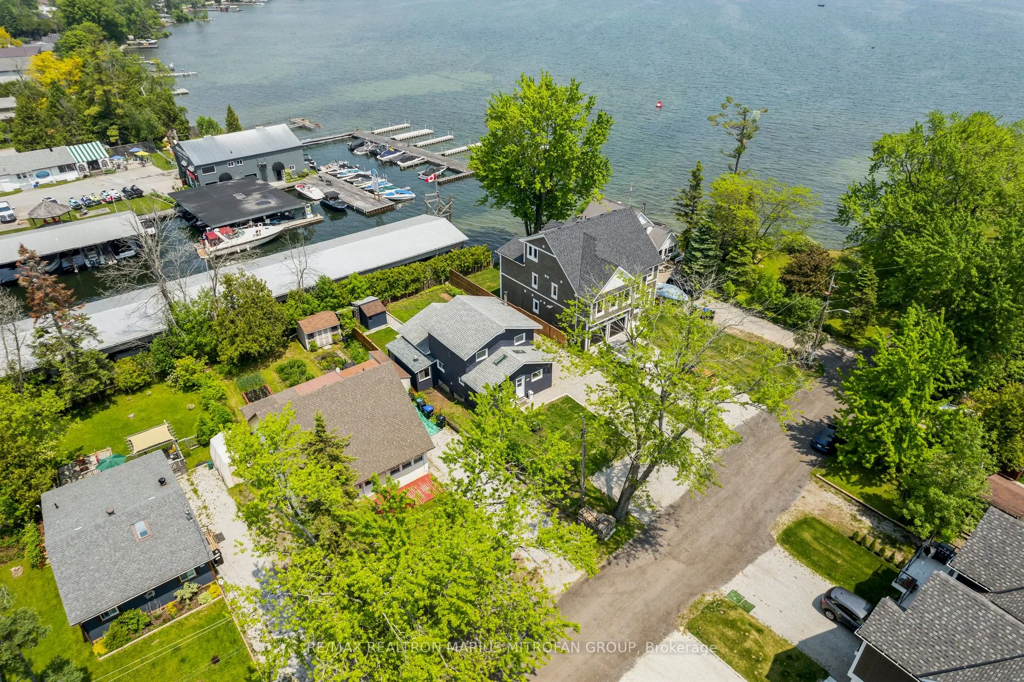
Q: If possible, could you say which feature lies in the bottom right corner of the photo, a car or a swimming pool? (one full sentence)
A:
There is a car in the bottom right corner of the photo.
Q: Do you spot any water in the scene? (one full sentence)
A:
Yes, water shows up in the scene.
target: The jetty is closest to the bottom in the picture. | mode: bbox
[193,214,328,255]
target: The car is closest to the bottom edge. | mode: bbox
[816,585,872,638]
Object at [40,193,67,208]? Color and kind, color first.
white car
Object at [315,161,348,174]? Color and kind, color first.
white boat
